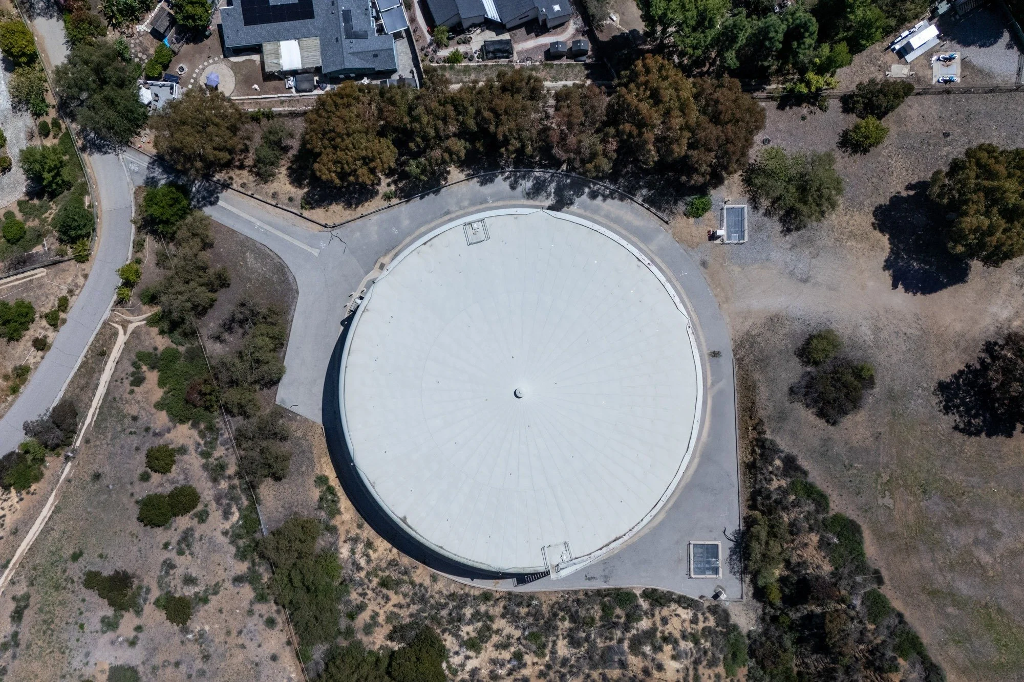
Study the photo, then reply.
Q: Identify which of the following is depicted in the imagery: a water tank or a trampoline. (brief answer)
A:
water tank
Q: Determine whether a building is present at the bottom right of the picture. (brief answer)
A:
No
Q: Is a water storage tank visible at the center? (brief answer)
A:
Yes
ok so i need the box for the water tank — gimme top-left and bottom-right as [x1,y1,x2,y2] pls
[339,208,702,582]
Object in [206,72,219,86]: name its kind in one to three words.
umbrella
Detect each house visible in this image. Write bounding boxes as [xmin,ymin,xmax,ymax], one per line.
[429,0,572,33]
[217,0,399,79]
